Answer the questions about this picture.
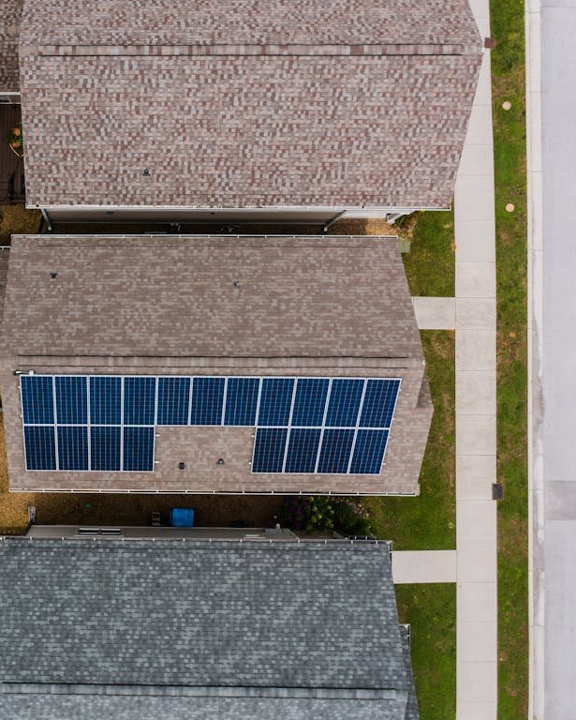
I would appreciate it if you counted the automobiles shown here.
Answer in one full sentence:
There are no automobiles in the image.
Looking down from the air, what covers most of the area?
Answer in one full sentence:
For the most part, this view shows buildings.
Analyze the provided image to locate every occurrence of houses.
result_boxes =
[0,520,420,720]
[19,0,485,234]
[0,233,434,494]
